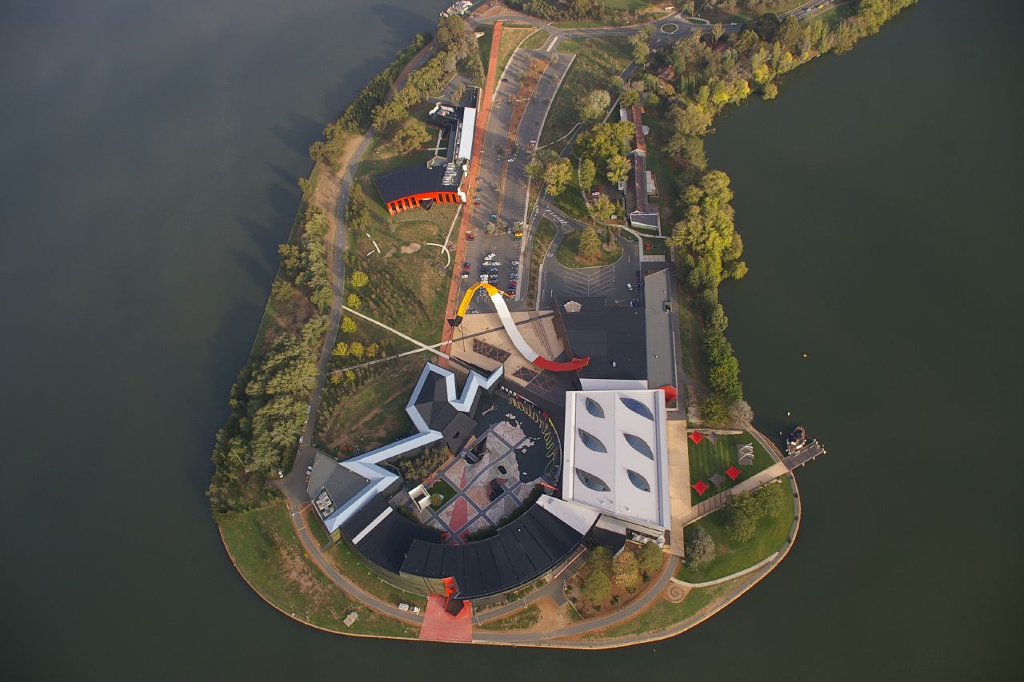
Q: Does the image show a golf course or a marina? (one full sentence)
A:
This image shows a marina.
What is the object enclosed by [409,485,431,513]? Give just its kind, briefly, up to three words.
building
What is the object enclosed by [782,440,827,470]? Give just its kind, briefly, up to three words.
pier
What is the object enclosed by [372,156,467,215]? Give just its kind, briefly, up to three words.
building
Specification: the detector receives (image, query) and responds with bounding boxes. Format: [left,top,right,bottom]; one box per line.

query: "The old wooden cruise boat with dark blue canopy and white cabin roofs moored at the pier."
[788,428,804,452]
